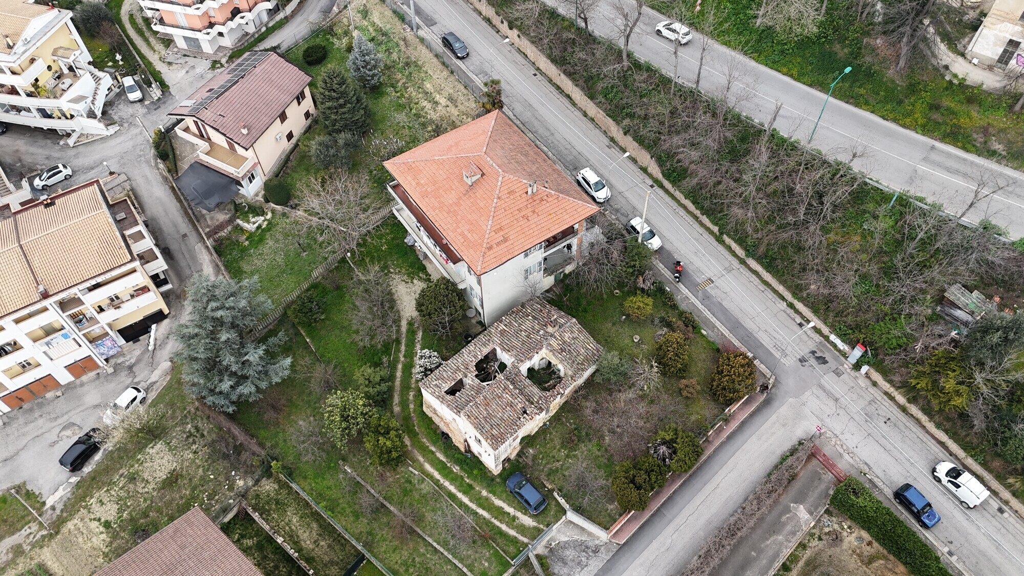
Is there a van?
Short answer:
Yes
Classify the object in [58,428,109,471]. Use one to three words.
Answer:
car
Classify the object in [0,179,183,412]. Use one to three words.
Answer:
building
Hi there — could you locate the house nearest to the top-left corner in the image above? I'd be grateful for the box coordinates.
[0,0,107,135]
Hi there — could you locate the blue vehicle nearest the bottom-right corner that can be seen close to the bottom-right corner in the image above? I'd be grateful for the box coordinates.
[894,484,939,530]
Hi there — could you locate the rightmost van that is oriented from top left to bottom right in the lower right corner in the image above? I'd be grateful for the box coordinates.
[931,462,993,513]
